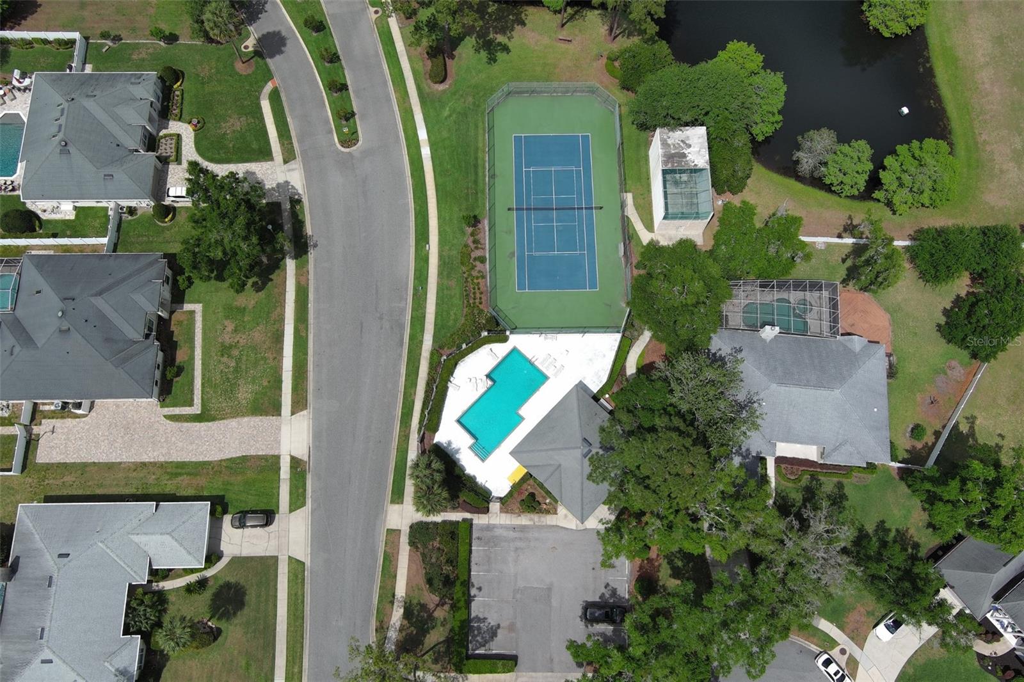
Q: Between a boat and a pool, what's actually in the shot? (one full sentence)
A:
This aerial view contains a pool.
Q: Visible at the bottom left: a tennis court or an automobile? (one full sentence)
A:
It is an automobile that can be seen at the bottom left.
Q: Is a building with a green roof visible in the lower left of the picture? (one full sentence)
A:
No, no building with a green roof is visible in the lower left of the picture.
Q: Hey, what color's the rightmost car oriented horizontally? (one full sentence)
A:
From above, the rightmost car oriented horizontally appears black.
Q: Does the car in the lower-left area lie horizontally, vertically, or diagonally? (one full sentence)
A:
The car in the lower-left area runs horizontally in the image.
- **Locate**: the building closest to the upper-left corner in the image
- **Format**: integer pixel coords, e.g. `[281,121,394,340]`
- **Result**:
[19,71,165,208]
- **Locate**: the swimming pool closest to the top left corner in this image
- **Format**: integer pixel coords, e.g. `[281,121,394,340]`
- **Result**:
[0,110,26,180]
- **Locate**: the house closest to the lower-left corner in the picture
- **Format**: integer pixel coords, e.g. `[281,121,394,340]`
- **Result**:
[0,501,216,682]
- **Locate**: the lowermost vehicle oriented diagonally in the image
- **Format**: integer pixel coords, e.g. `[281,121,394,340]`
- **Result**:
[814,647,852,682]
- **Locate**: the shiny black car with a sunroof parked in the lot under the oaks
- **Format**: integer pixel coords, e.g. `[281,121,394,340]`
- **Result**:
[584,604,628,626]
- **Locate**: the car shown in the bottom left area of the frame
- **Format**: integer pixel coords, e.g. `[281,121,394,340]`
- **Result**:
[231,510,274,530]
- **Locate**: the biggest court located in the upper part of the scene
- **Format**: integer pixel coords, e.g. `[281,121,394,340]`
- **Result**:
[489,95,624,331]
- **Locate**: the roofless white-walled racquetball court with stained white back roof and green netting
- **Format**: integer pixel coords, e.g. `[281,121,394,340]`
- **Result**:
[650,126,713,245]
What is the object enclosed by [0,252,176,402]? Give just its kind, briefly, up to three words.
house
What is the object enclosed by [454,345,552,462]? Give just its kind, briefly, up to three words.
swimming pool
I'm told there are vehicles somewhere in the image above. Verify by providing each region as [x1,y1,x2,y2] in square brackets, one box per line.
[876,602,910,643]
[231,510,274,530]
[160,185,194,203]
[584,604,628,626]
[814,647,852,682]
